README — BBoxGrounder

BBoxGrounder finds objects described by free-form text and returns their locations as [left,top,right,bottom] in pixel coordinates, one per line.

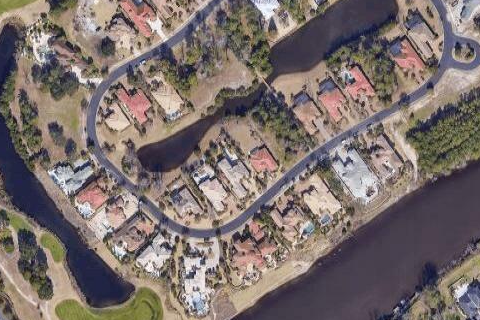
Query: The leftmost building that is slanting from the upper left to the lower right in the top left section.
[34,32,101,85]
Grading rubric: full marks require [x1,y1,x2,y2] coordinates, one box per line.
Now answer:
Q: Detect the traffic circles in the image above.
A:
[439,34,480,73]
